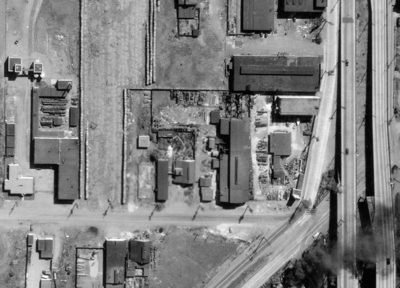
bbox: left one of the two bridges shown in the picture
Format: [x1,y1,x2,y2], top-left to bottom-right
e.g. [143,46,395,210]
[335,0,359,288]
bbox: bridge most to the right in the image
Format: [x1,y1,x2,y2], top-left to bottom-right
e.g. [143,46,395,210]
[370,0,396,288]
